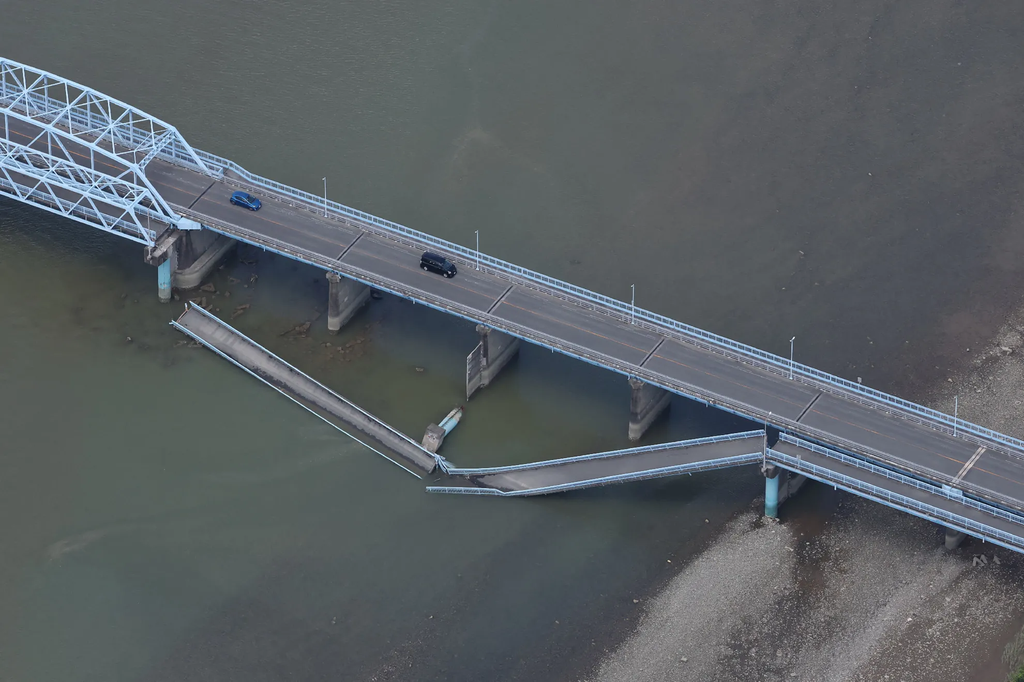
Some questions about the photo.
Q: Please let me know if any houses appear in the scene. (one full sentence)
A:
No, no house is visible in the scene.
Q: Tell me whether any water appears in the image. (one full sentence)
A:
Yes, there's water in this view.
